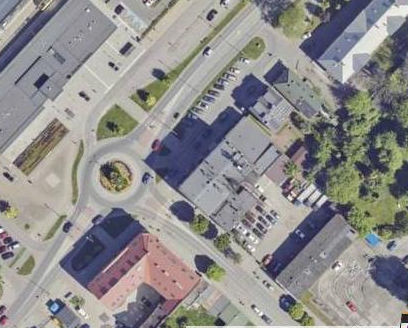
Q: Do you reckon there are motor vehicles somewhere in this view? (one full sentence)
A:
Yes, I can see a motor vehicle in this picture.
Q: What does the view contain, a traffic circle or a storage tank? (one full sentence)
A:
Looking from above, you can make out a traffic circle.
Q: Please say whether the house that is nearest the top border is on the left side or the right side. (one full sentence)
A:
The house that is nearest the top border sits on the right side.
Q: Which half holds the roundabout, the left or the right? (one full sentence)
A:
You can find the roundabout on the left side of the picture.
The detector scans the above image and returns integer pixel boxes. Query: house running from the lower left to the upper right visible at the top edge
[318,0,408,82]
